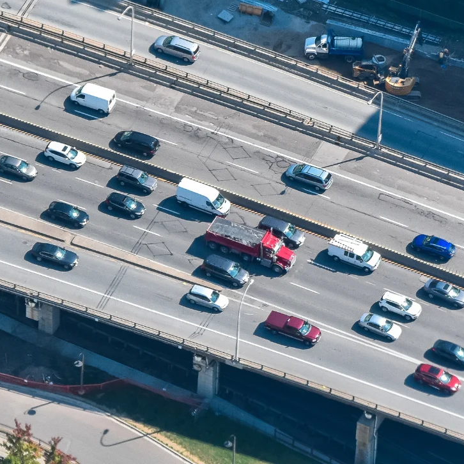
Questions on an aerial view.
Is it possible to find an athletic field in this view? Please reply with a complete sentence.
No, there is no athletic field in the image.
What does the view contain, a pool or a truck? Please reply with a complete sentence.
Of the two, only a truck appears.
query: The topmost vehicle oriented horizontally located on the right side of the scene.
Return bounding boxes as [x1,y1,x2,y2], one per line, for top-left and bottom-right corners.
[302,28,363,56]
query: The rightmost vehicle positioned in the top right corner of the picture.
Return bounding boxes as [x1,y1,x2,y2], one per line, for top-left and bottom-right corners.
[384,14,430,94]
